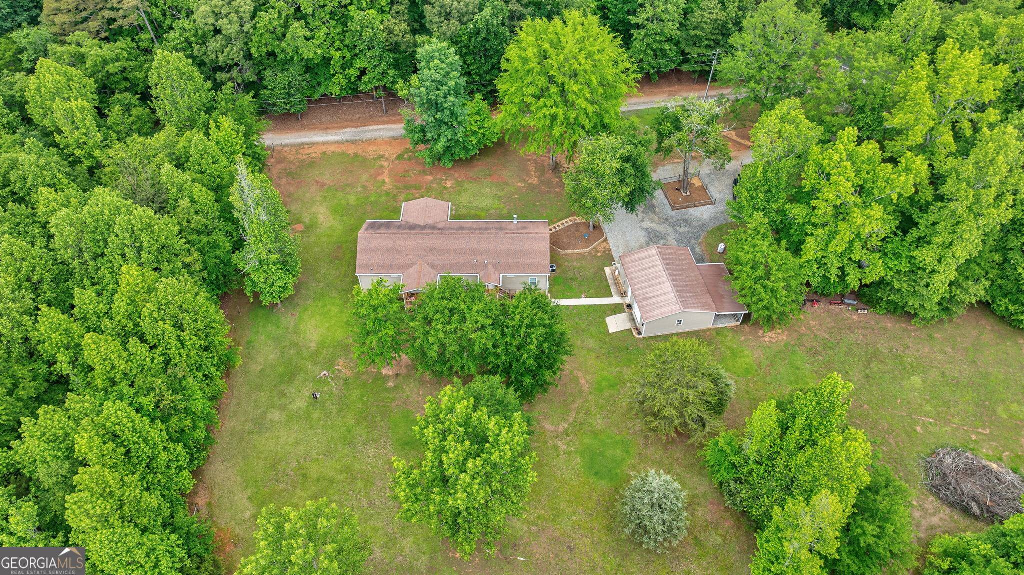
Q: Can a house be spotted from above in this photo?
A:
Yes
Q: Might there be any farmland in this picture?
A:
No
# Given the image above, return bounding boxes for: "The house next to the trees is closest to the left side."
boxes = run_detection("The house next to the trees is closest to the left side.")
[356,197,550,310]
